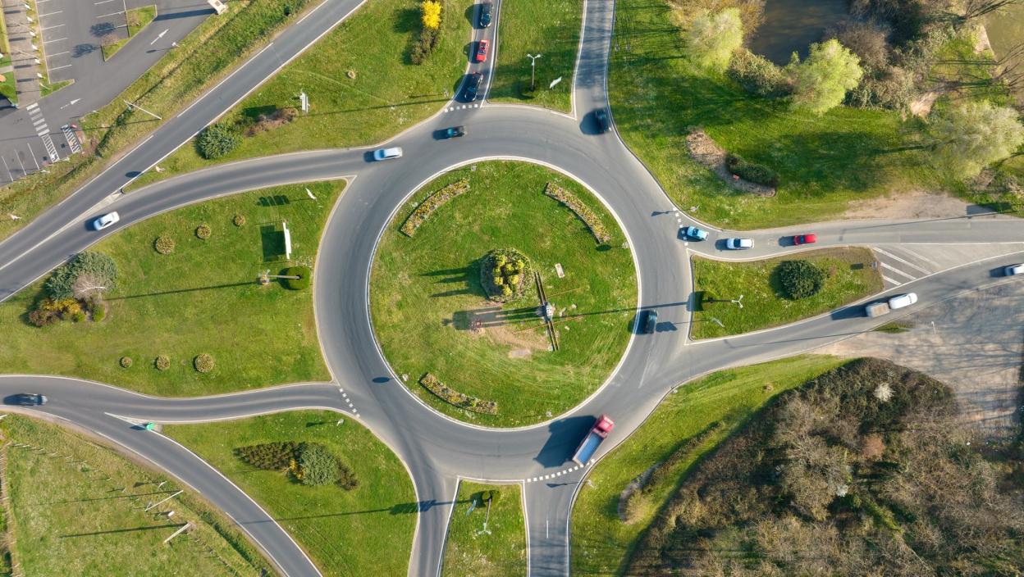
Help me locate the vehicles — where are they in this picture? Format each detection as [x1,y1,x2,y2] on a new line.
[725,237,754,251]
[465,71,483,103]
[886,292,918,310]
[478,0,493,28]
[643,308,658,334]
[476,38,489,64]
[1003,262,1024,277]
[571,413,617,470]
[19,392,49,407]
[684,226,711,242]
[595,106,610,136]
[791,233,818,247]
[92,209,122,232]
[374,146,404,161]
[439,126,467,140]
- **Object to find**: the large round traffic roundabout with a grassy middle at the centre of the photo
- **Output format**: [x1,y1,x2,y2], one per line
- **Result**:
[315,104,693,483]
